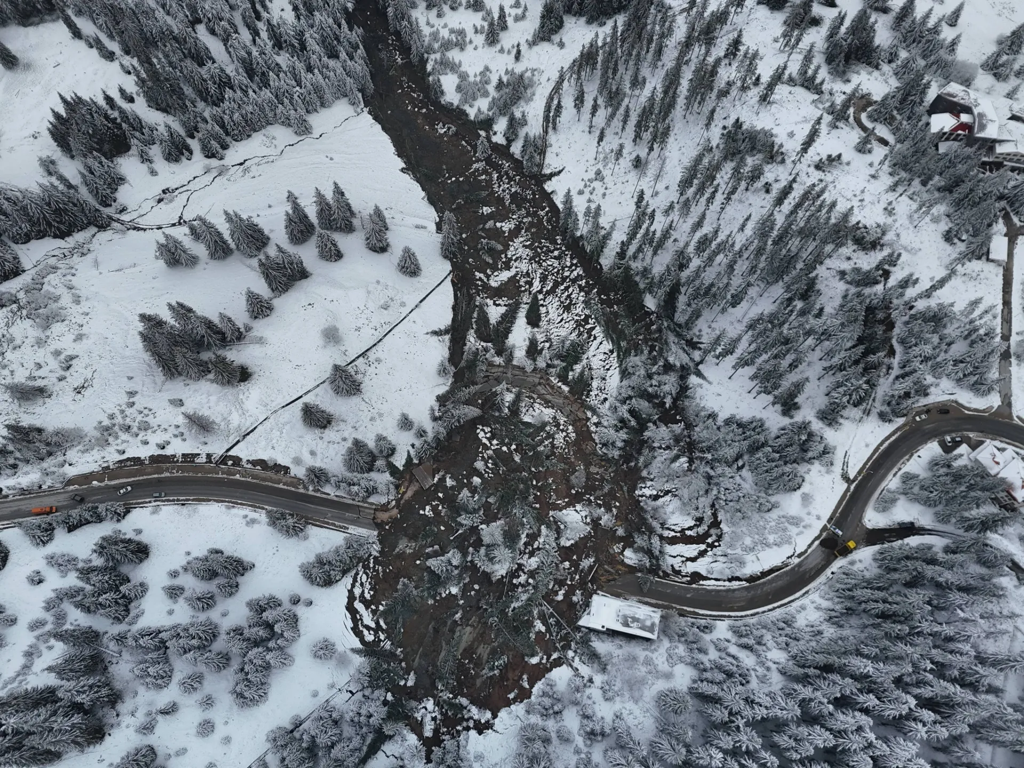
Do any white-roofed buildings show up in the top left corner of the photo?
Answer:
No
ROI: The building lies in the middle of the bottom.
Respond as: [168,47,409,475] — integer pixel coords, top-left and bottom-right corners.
[577,594,661,640]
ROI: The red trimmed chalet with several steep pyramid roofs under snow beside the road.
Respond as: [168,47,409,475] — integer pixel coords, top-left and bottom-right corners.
[948,441,1024,513]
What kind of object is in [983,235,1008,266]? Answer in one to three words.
building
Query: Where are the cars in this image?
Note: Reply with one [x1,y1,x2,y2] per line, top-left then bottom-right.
[150,491,166,498]
[938,407,952,413]
[945,434,955,448]
[916,412,929,421]
[953,437,966,443]
[68,492,84,503]
[115,484,132,495]
[829,525,843,537]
